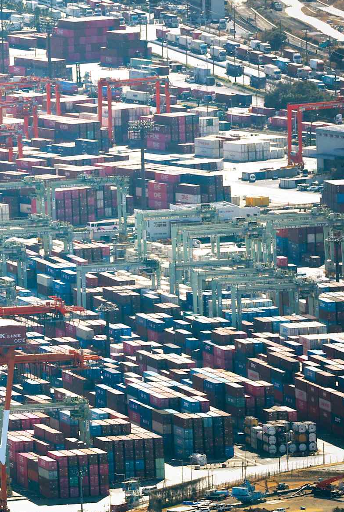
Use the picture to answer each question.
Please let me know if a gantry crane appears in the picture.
Yes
